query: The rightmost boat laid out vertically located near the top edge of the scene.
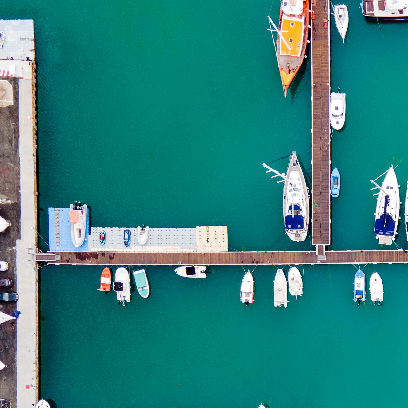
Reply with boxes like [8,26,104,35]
[331,1,349,43]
